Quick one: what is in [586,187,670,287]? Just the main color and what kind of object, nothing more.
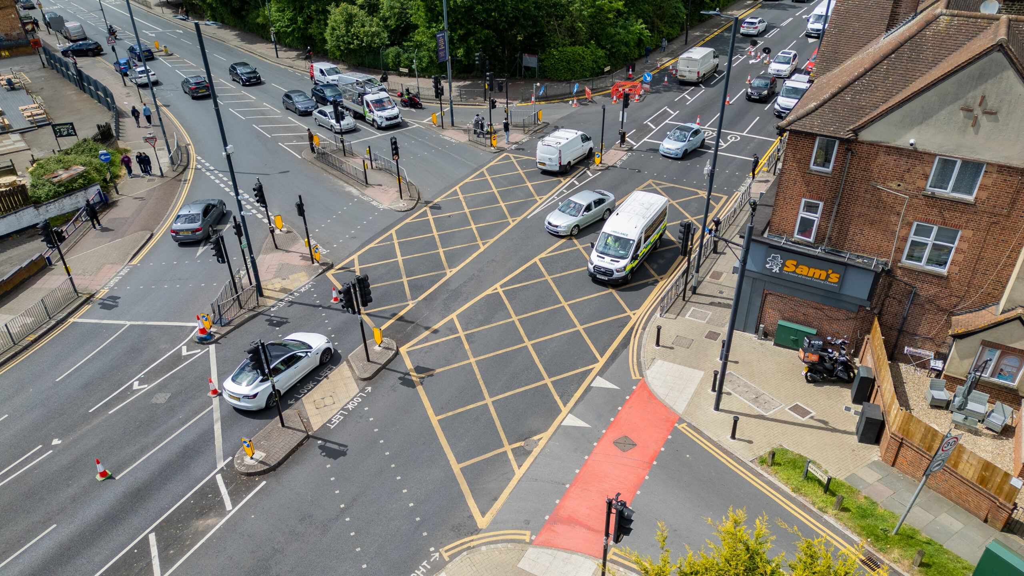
white van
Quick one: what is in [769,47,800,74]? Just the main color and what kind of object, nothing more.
white car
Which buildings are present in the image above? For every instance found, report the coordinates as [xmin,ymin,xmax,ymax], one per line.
[0,0,38,63]
[728,0,1024,372]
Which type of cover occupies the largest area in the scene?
paved ground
